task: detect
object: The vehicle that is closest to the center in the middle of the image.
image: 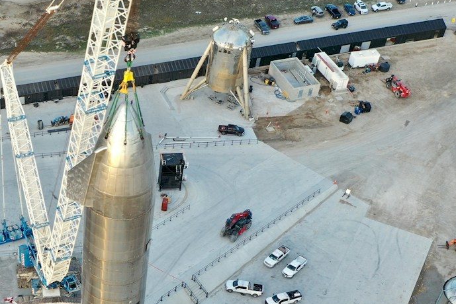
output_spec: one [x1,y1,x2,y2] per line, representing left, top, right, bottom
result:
[215,123,247,138]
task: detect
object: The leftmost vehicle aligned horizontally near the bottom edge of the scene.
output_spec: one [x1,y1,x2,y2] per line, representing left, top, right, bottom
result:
[225,280,263,297]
